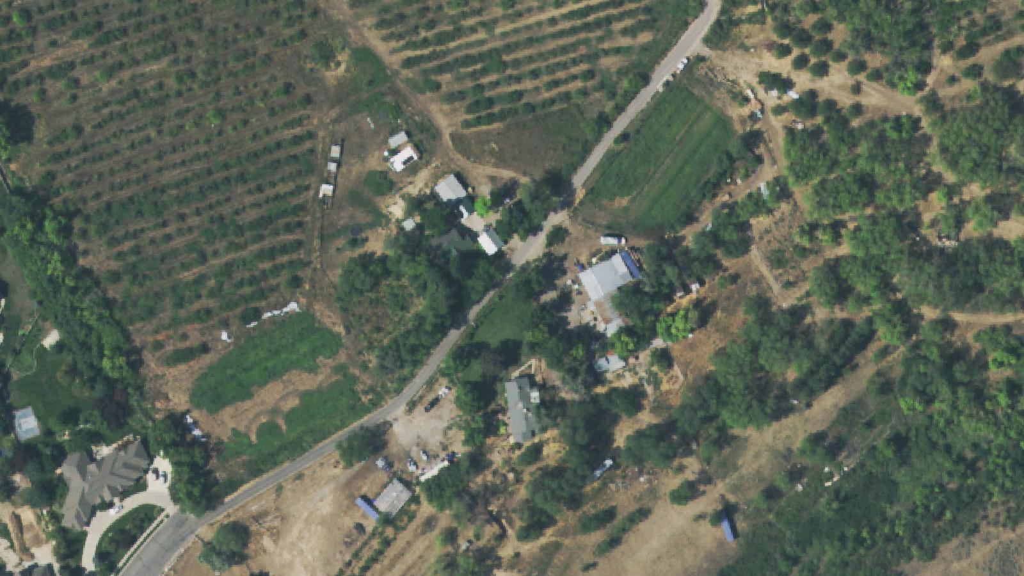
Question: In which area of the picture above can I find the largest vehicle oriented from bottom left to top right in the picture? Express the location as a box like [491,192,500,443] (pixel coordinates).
[591,459,615,480]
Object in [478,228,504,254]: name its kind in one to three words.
building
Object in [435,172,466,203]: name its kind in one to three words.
barn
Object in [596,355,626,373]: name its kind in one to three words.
house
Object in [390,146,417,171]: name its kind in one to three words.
shed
